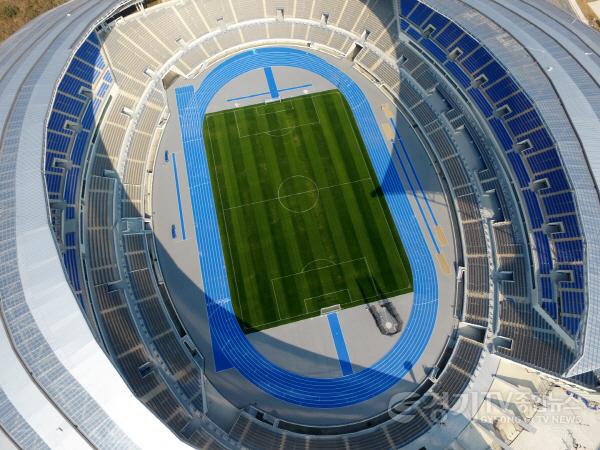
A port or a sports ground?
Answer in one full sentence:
This image shows a sports ground.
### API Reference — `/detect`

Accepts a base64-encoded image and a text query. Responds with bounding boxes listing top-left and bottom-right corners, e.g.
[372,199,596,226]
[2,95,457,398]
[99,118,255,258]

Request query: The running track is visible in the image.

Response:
[176,47,437,410]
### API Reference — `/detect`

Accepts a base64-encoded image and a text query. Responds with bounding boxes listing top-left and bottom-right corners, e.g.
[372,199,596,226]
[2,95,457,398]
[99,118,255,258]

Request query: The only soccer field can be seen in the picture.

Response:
[204,90,412,336]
